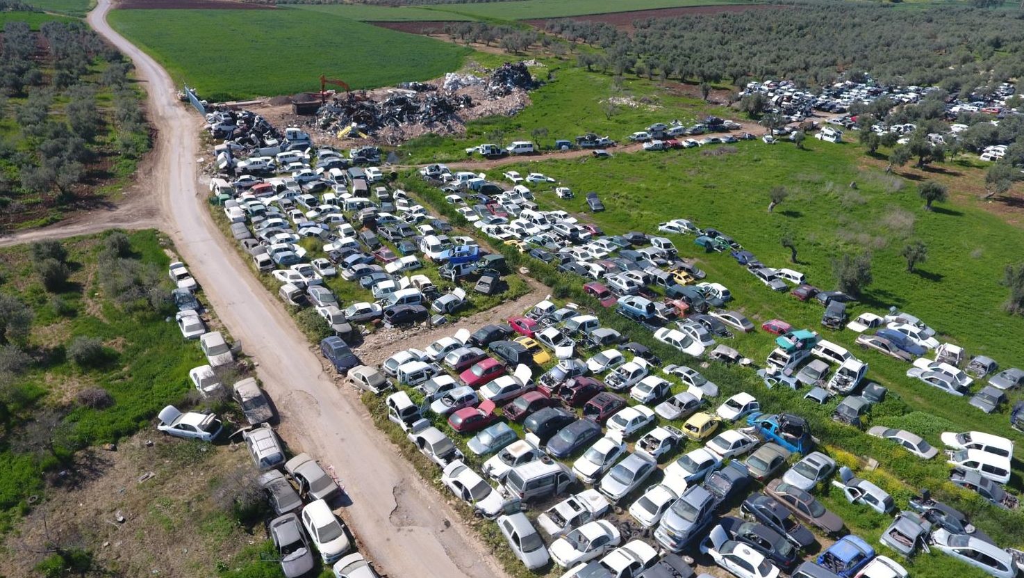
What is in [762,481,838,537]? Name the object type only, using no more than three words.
car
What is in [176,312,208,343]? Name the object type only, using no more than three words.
car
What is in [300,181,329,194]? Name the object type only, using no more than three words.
vehicle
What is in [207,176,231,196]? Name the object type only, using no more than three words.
vehicle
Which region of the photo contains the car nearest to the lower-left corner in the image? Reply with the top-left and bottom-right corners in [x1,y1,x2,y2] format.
[154,411,225,447]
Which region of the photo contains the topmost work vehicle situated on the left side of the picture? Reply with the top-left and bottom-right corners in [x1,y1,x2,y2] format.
[318,71,363,101]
